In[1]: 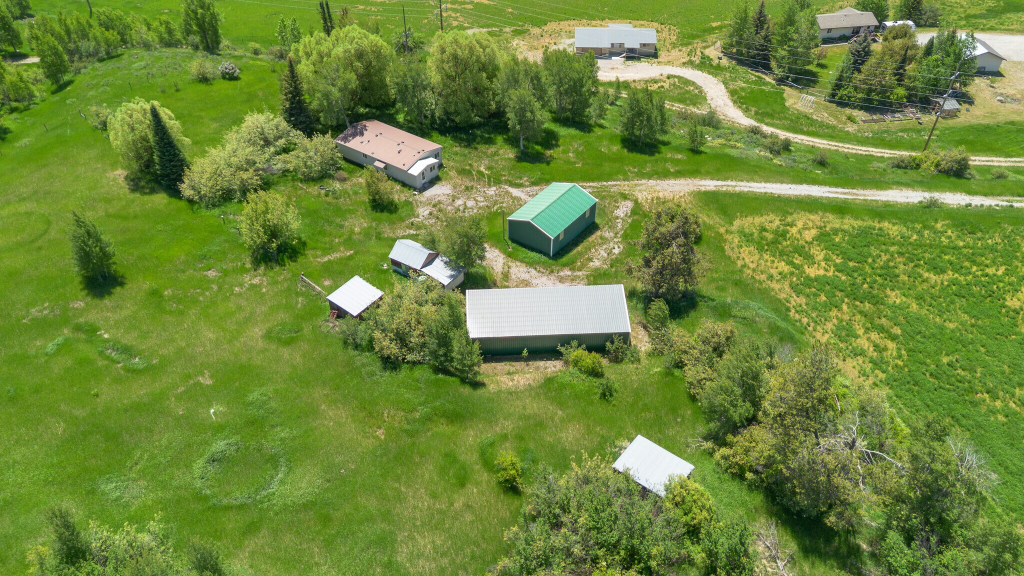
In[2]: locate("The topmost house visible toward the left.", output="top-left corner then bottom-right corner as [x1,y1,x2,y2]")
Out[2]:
[335,121,444,189]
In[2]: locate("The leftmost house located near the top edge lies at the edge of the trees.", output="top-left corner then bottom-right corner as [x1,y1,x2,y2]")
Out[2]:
[572,14,658,62]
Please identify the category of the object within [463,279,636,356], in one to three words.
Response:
barn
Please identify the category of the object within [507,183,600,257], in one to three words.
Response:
shed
